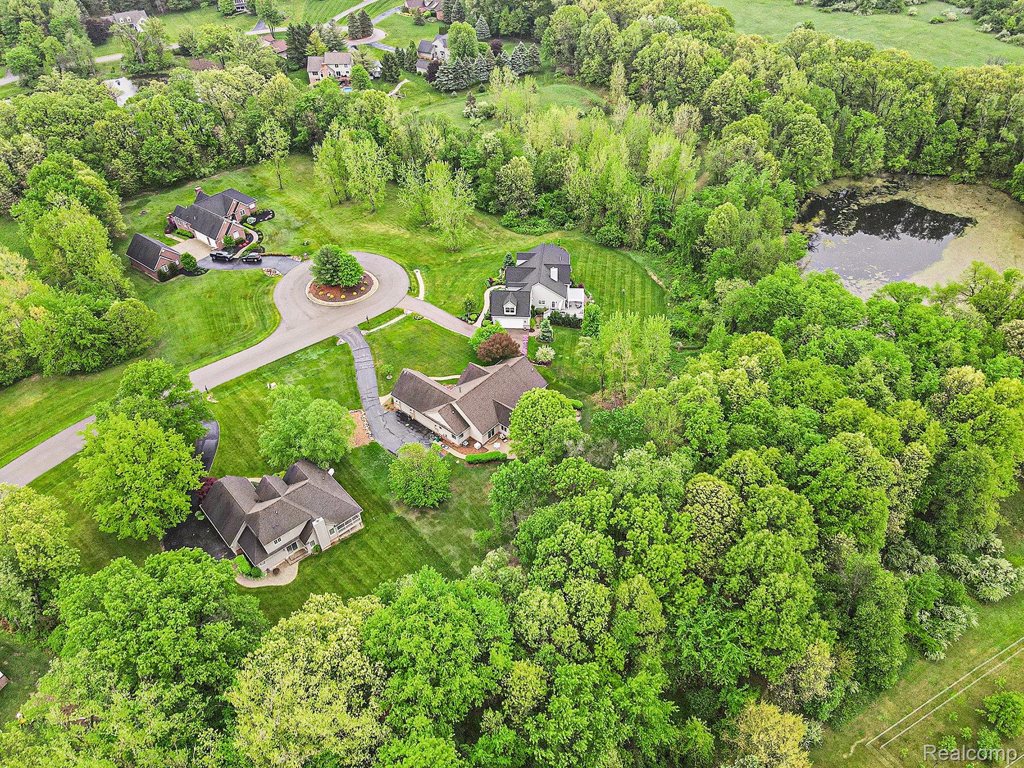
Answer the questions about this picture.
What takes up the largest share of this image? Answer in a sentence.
Most of the picture is covered by trees.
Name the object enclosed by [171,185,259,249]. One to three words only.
house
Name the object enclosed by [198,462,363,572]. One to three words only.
house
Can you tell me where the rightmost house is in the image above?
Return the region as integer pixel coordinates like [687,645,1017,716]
[490,244,585,326]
